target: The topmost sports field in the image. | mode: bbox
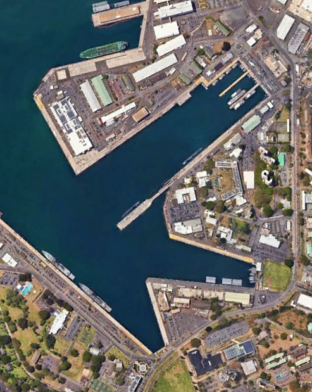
[262,262,292,292]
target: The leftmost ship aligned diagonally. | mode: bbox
[43,251,74,280]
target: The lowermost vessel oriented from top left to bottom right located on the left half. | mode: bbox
[78,282,111,311]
